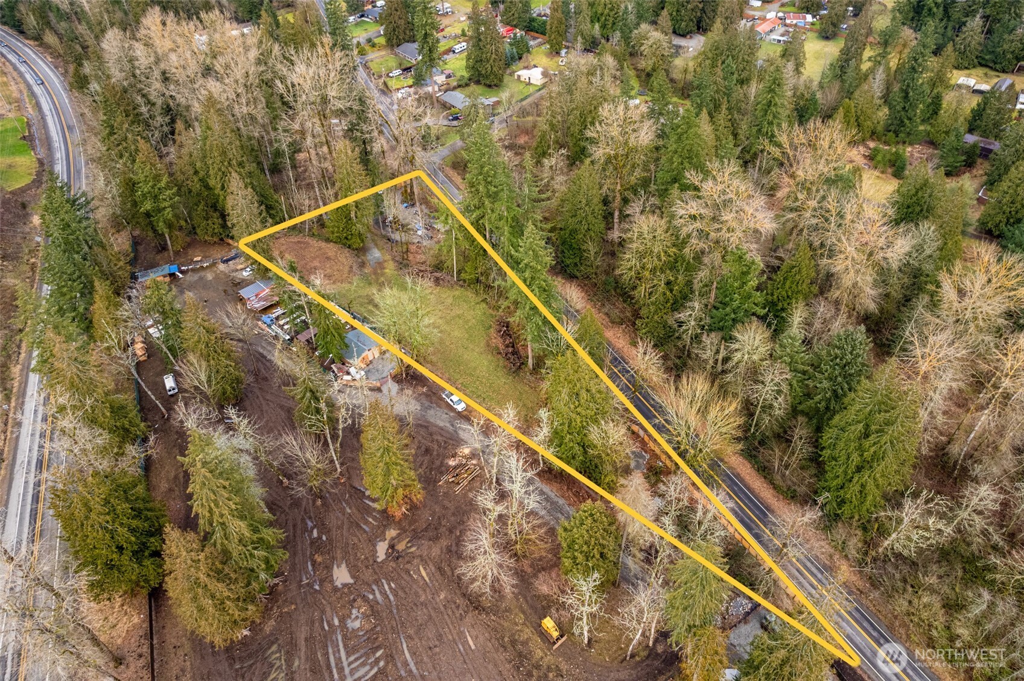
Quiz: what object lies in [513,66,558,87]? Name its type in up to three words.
shed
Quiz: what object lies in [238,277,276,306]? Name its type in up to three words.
shed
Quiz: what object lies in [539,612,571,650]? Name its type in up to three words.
work vehicle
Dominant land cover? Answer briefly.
trees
